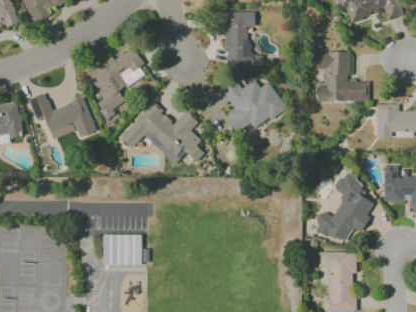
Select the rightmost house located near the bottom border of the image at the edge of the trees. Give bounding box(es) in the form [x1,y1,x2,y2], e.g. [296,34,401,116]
[320,251,357,312]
